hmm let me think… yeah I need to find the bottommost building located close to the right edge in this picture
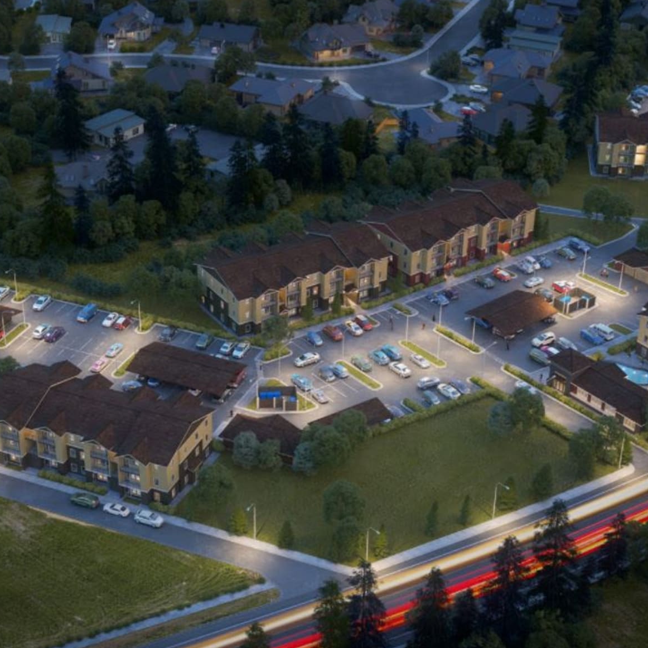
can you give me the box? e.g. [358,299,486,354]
[530,341,648,435]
